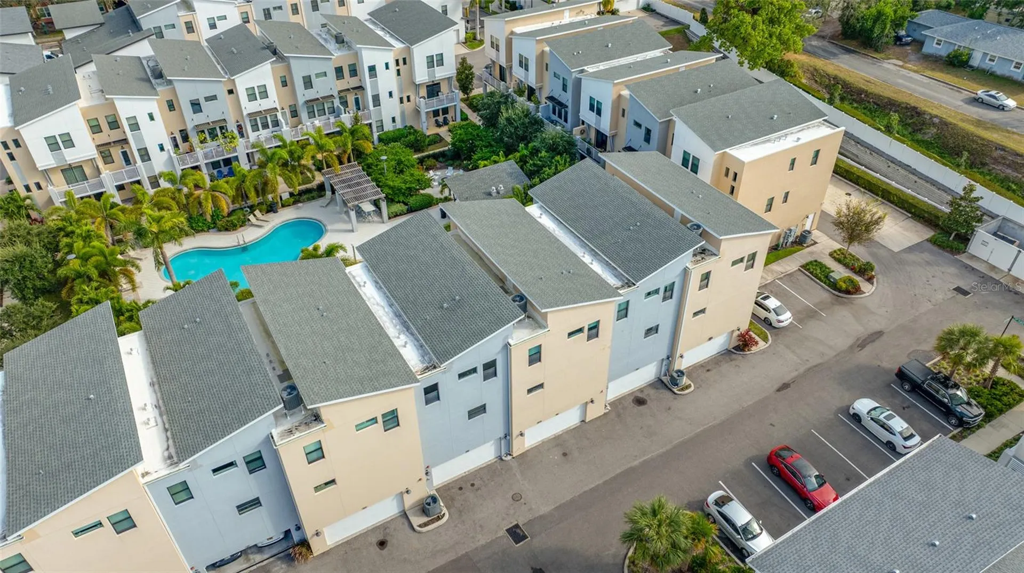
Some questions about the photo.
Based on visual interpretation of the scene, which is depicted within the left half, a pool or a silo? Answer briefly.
pool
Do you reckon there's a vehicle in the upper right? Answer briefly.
Yes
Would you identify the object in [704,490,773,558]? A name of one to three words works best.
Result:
car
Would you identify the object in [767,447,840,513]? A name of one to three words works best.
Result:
car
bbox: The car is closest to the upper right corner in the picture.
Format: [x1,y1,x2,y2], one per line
[975,88,1019,109]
